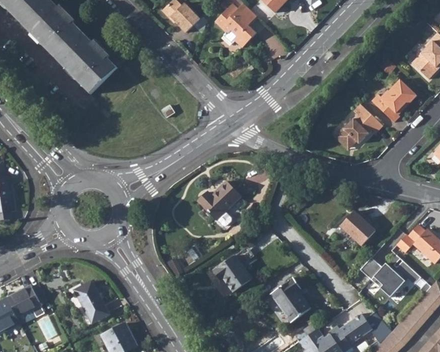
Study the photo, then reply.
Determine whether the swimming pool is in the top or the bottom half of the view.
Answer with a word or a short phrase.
bottom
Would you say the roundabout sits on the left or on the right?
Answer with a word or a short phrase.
left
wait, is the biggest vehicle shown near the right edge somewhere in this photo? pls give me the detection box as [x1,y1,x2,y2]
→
[410,114,426,130]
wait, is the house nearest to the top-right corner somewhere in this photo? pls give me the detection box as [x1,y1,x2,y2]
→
[412,33,440,81]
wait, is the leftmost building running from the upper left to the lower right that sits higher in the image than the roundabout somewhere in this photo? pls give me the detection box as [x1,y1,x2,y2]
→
[0,0,117,96]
